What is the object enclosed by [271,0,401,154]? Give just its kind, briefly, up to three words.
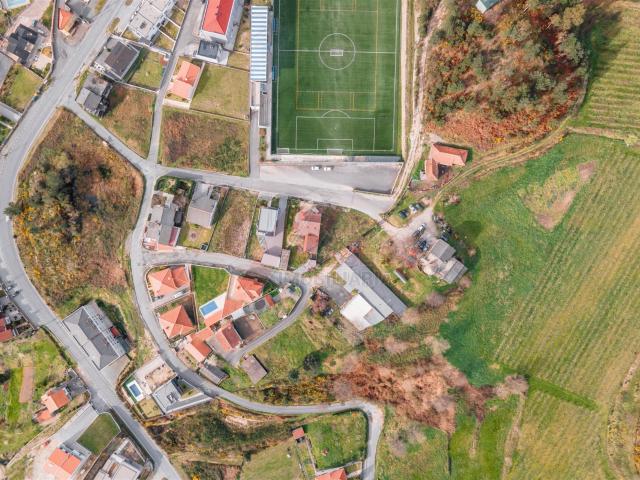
soccer field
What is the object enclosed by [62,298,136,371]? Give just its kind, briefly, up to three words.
building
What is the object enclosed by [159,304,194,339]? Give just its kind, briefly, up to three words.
house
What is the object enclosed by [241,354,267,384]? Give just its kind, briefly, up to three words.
barn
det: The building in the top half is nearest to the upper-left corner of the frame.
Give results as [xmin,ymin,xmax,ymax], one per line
[8,24,45,62]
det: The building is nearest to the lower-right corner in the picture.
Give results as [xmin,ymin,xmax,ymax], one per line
[441,257,468,284]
